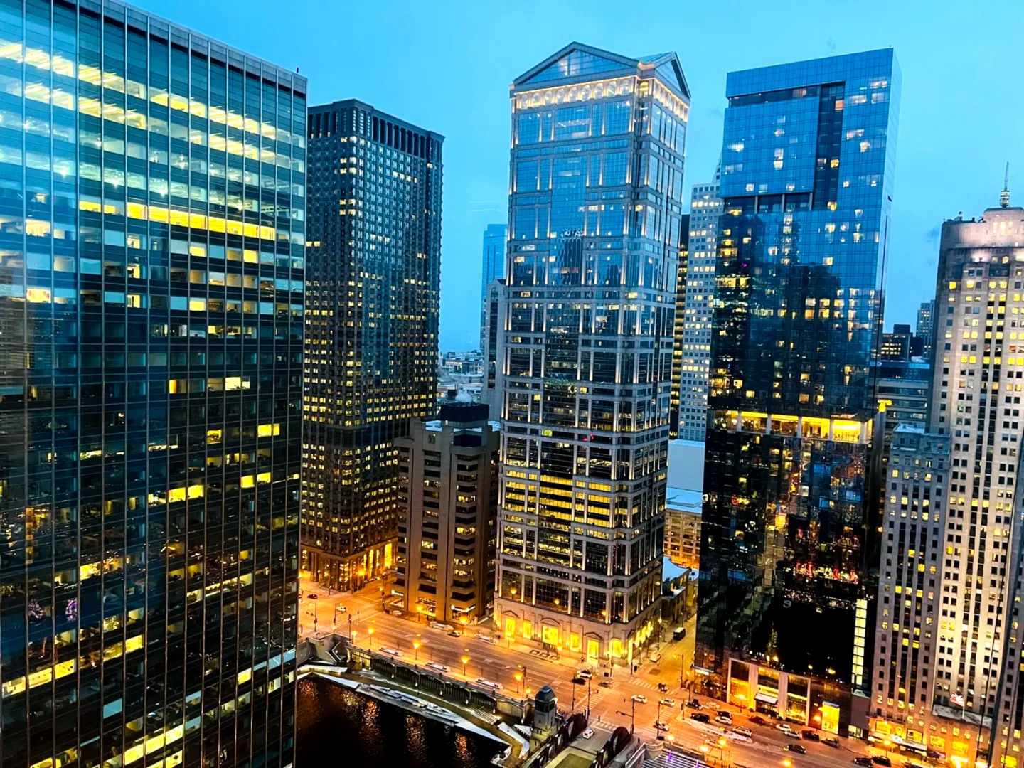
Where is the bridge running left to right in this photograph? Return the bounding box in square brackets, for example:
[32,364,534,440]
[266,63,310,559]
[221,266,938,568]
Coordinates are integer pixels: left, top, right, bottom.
[513,711,647,768]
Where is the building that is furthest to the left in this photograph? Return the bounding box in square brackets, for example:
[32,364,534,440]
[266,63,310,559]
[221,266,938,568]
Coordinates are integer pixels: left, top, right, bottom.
[0,0,312,768]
